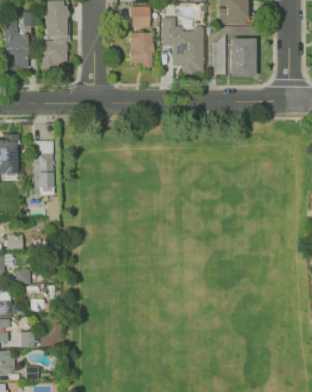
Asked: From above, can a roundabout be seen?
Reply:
No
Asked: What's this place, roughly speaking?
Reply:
sports ground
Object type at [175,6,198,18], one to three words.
swimming pool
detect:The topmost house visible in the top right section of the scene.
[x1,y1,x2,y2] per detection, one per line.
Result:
[219,0,250,26]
